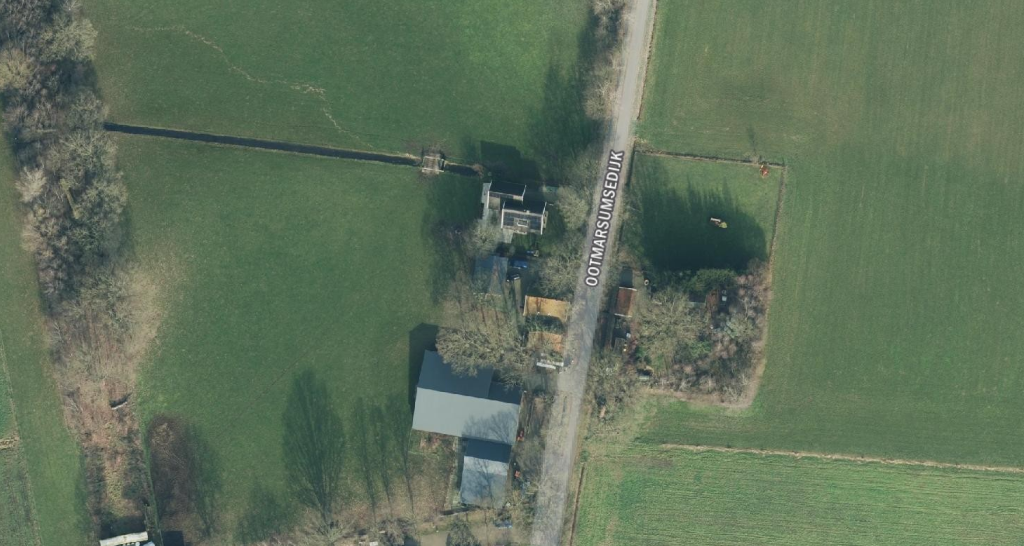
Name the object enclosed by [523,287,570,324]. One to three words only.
house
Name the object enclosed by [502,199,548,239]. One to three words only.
house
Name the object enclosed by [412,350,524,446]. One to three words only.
barn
